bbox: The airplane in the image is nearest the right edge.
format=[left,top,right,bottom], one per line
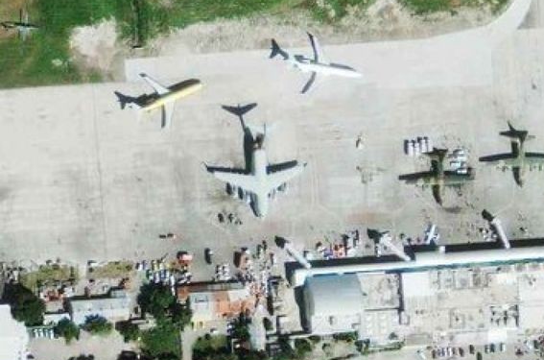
[488,133,544,186]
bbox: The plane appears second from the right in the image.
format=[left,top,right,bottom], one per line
[406,152,474,204]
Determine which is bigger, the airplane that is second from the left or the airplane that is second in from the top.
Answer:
the airplane that is second from the left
